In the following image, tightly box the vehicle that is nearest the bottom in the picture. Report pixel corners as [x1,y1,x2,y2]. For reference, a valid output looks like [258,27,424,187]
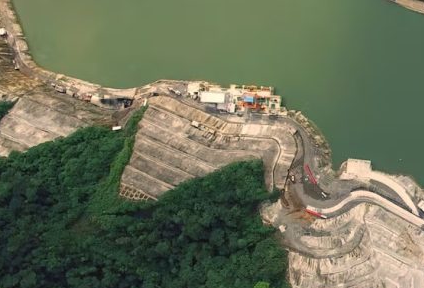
[305,206,326,219]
